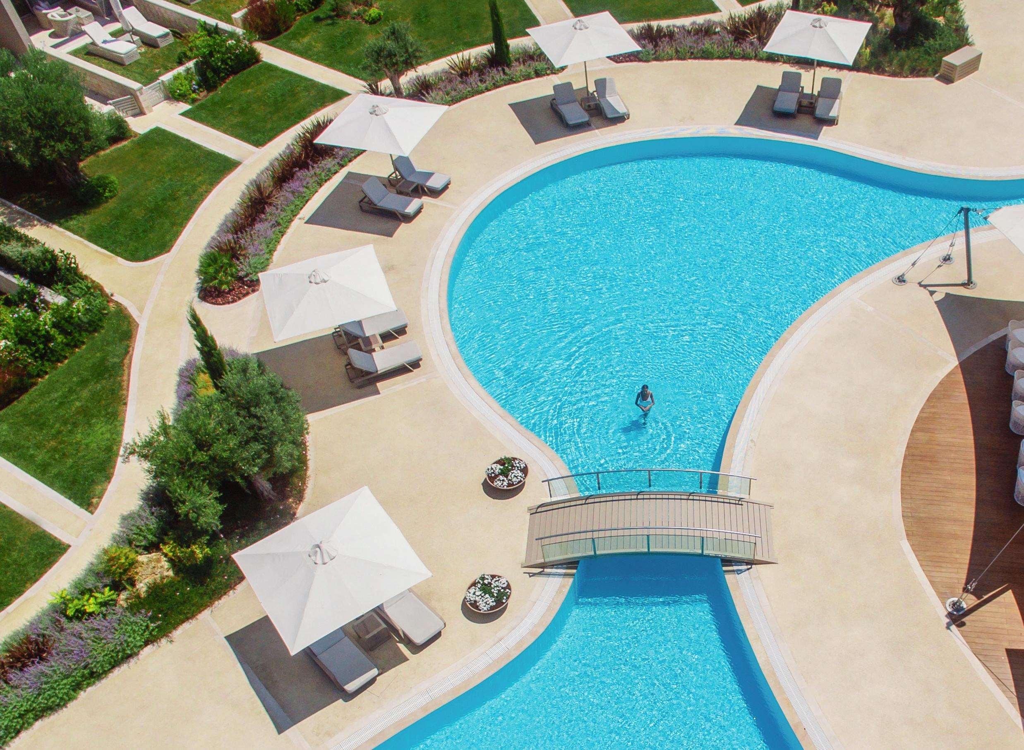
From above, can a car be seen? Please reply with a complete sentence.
No, there isn't any car down there.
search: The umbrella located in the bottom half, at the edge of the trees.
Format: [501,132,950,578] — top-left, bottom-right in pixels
[229,488,430,658]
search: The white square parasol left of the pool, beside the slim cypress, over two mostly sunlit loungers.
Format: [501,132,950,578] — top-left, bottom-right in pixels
[257,245,395,373]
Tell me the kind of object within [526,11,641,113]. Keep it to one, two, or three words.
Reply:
umbrella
